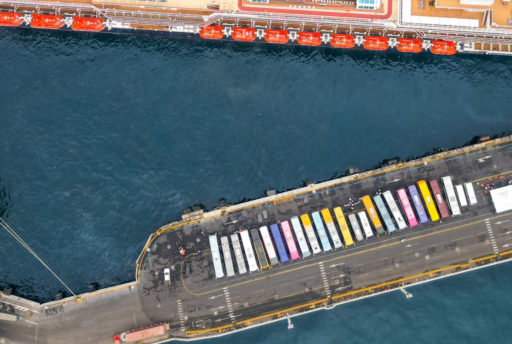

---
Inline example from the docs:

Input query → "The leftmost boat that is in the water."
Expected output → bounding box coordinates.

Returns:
[0,10,26,24]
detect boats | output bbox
[429,40,458,54]
[263,29,291,43]
[395,37,423,51]
[329,33,355,47]
[0,10,26,24]
[29,13,64,27]
[199,24,225,38]
[296,31,324,45]
[361,35,388,49]
[230,26,257,40]
[70,15,106,30]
